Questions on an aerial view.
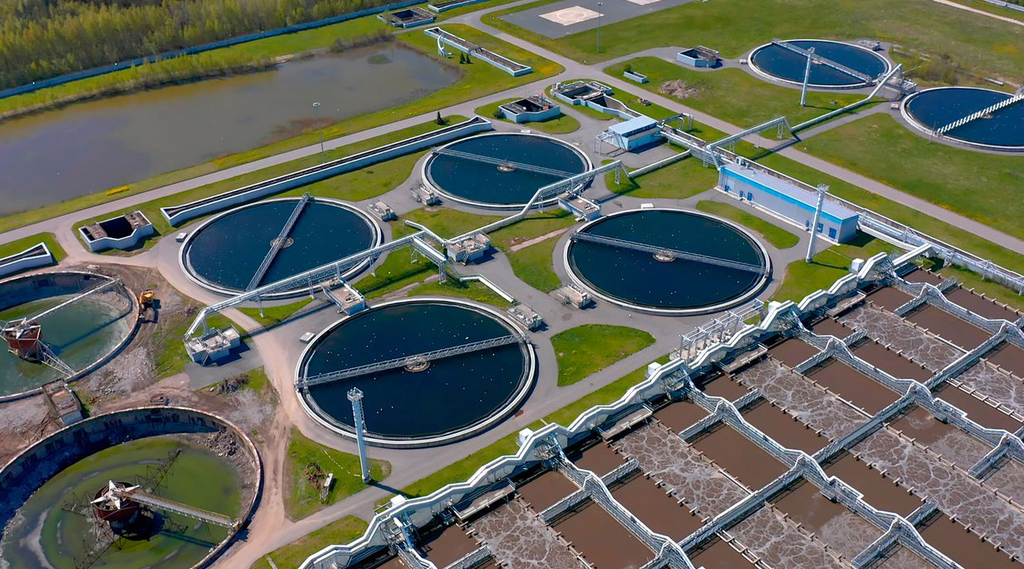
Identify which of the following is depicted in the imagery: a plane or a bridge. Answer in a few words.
bridge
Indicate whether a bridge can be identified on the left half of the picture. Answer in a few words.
Yes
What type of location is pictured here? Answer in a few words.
industrial area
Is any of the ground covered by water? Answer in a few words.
Yes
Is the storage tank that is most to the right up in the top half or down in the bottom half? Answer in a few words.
top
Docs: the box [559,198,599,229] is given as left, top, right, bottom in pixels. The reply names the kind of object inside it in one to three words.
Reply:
building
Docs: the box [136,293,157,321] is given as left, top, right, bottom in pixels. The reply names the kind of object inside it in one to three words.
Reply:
work vehicle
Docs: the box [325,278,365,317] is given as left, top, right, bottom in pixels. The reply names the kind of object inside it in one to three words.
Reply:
building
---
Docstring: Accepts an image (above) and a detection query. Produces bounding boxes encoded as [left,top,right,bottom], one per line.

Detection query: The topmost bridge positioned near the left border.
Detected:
[15,275,126,326]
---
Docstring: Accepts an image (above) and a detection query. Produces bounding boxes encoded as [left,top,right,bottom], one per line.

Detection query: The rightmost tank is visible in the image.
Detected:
[900,86,1024,152]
